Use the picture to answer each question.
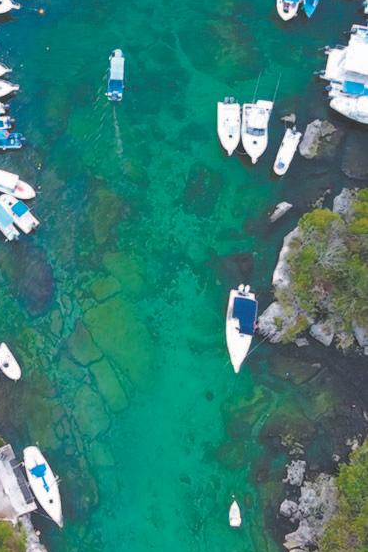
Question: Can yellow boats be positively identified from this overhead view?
No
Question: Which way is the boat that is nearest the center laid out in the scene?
up and down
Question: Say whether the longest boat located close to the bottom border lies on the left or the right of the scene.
left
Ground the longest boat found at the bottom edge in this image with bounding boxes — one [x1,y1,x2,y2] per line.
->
[21,446,63,528]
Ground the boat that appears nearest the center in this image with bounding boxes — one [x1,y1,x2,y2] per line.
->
[222,284,259,380]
